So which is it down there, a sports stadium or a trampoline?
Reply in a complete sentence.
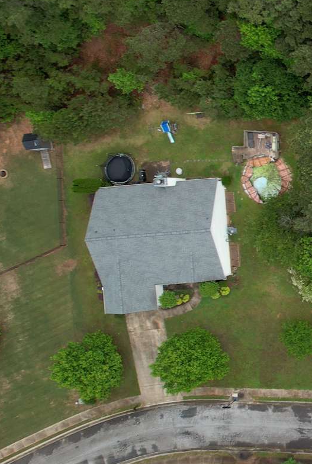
The one in the frame is a trampoline.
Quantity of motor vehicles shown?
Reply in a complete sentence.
The count of motor vehicles is 0.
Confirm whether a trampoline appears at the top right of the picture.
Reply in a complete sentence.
No, the scene shows no trampoline at the top right of the picture.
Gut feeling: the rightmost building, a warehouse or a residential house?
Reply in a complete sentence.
Looking closely, the rightmost building is a residential house.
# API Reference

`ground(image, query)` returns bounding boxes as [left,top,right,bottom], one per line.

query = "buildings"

[16,137,49,168]
[89,176,231,313]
